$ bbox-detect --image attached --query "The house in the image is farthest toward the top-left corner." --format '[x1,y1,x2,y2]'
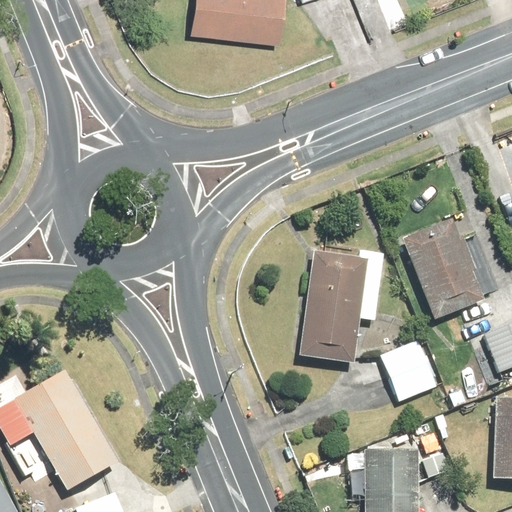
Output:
[190,0,289,46]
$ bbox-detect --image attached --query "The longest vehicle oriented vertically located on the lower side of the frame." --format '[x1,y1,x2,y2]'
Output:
[462,366,479,398]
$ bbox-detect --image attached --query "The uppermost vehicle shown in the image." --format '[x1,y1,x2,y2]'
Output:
[416,50,444,66]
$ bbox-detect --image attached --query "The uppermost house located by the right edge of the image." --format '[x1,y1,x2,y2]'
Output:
[404,218,496,318]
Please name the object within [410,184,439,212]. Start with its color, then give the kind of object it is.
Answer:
white car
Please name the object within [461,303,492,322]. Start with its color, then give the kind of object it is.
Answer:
white car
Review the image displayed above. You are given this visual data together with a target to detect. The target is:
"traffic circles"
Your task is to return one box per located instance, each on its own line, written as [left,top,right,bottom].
[52,143,197,281]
